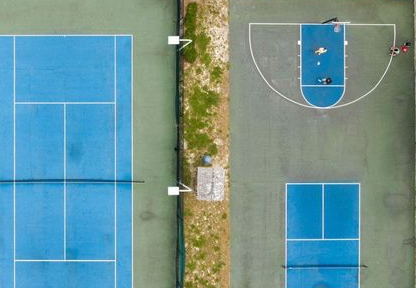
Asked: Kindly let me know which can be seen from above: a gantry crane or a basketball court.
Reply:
basketball court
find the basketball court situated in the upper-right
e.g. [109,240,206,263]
[249,23,396,108]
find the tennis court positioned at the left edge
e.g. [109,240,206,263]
[0,34,133,288]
